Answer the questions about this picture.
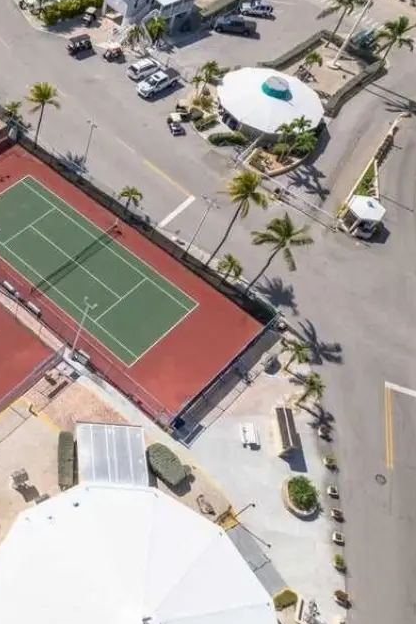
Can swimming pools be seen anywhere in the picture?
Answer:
No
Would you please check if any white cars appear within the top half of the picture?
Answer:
Yes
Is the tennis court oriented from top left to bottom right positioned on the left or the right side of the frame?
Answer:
left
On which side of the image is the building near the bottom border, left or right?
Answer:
left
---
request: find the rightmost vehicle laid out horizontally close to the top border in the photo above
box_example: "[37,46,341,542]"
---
[239,0,276,17]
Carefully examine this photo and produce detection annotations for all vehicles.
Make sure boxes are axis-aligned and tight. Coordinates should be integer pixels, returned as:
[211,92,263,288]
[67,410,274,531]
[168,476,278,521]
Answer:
[127,57,163,80]
[169,110,186,133]
[138,69,183,98]
[104,39,124,59]
[82,5,98,26]
[68,31,92,52]
[239,0,276,17]
[175,94,197,116]
[214,16,260,37]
